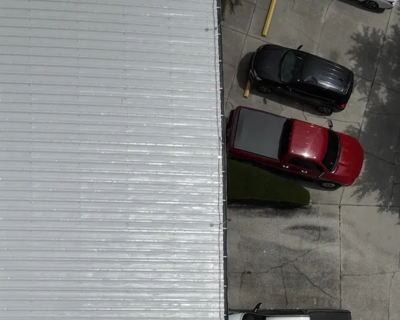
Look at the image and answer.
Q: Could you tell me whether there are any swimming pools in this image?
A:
No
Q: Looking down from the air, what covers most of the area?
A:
buildings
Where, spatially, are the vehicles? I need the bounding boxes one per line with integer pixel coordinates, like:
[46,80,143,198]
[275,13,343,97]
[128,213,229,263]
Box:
[229,105,365,184]
[355,0,400,10]
[246,40,360,115]
[229,304,351,320]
